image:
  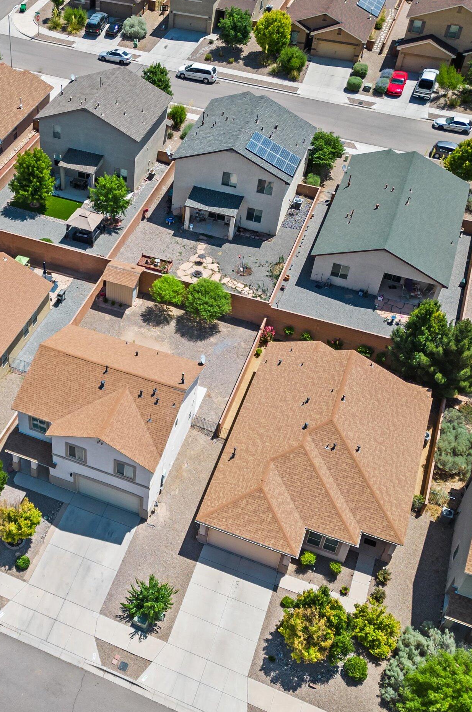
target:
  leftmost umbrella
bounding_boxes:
[13,255,35,268]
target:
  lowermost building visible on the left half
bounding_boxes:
[4,324,207,519]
